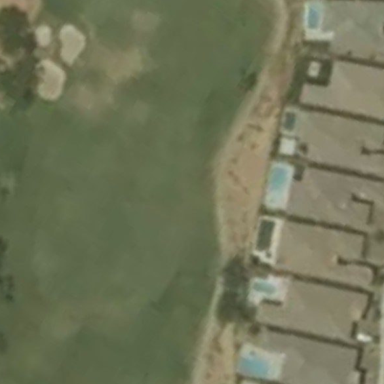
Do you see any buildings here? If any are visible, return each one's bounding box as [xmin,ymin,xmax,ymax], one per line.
[288,167,384,227]
[294,111,384,175]
[257,278,371,343]
[261,331,364,384]
[274,219,371,286]
[301,59,384,117]
[325,2,384,57]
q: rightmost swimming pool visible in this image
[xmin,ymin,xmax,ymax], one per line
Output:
[306,1,327,39]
